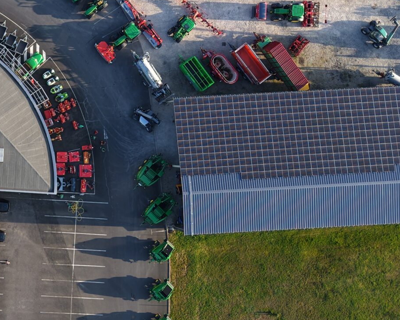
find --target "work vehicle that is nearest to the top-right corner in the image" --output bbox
[358,22,400,48]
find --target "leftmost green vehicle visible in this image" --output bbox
[19,55,42,77]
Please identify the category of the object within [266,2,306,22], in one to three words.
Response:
work vehicle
